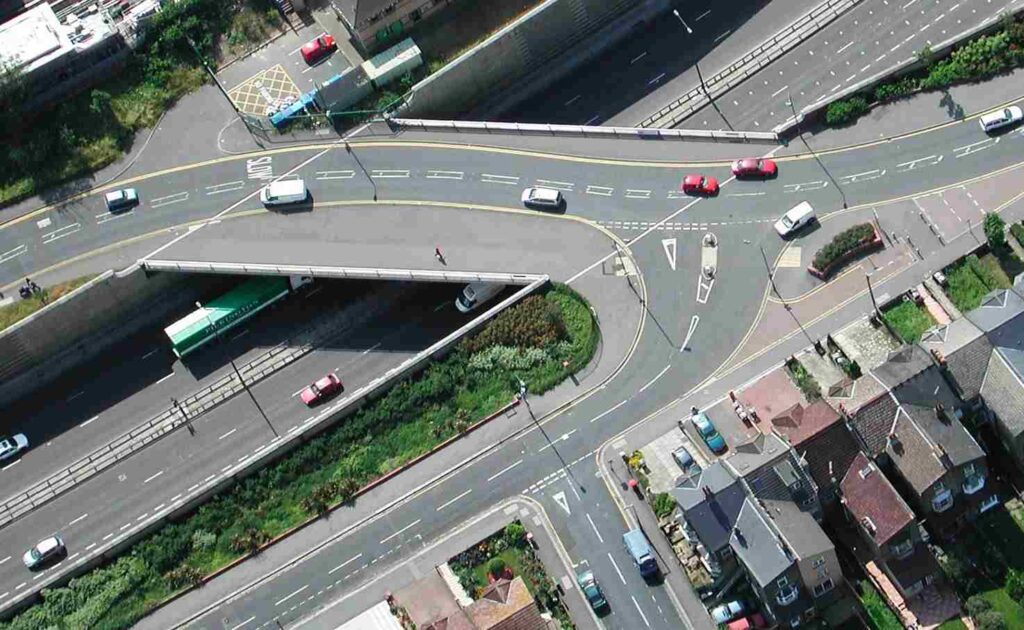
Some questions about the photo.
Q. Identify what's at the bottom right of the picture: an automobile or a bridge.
automobile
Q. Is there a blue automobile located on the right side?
Yes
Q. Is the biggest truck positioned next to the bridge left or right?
left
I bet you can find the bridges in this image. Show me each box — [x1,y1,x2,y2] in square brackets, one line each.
[142,114,788,287]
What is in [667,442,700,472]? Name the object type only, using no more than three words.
car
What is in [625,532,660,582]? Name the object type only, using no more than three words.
van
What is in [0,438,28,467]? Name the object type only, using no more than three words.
car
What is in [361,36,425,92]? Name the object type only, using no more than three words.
building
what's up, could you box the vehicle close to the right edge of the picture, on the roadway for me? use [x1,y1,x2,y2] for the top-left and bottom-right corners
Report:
[979,106,1024,131]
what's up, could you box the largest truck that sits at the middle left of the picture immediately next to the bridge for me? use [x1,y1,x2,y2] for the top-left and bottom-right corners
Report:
[166,272,311,358]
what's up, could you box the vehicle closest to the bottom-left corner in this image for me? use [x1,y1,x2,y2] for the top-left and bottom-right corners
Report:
[26,539,65,568]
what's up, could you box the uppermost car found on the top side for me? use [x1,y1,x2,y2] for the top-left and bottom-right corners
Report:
[300,35,336,59]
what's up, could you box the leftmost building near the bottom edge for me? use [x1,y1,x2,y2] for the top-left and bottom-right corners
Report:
[333,600,405,630]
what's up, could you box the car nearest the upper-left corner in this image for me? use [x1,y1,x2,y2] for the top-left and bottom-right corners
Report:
[106,189,139,210]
